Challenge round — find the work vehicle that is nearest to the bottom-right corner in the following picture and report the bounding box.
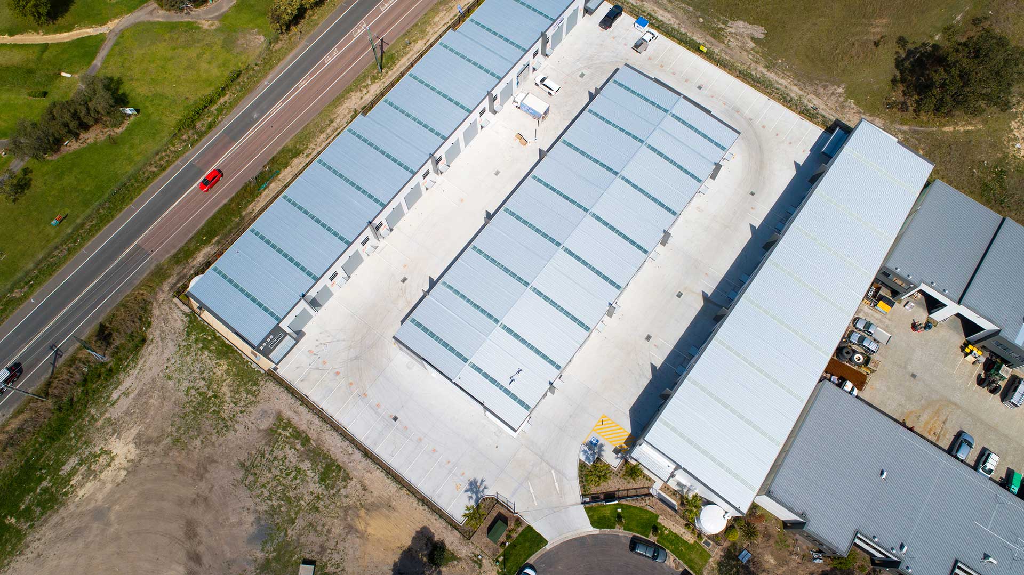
[999,468,1024,491]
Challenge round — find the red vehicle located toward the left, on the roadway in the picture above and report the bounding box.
[199,169,226,191]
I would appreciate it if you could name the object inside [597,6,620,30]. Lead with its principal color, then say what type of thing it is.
black truck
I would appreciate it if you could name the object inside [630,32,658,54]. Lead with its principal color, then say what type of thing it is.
white truck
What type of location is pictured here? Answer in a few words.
industrial area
